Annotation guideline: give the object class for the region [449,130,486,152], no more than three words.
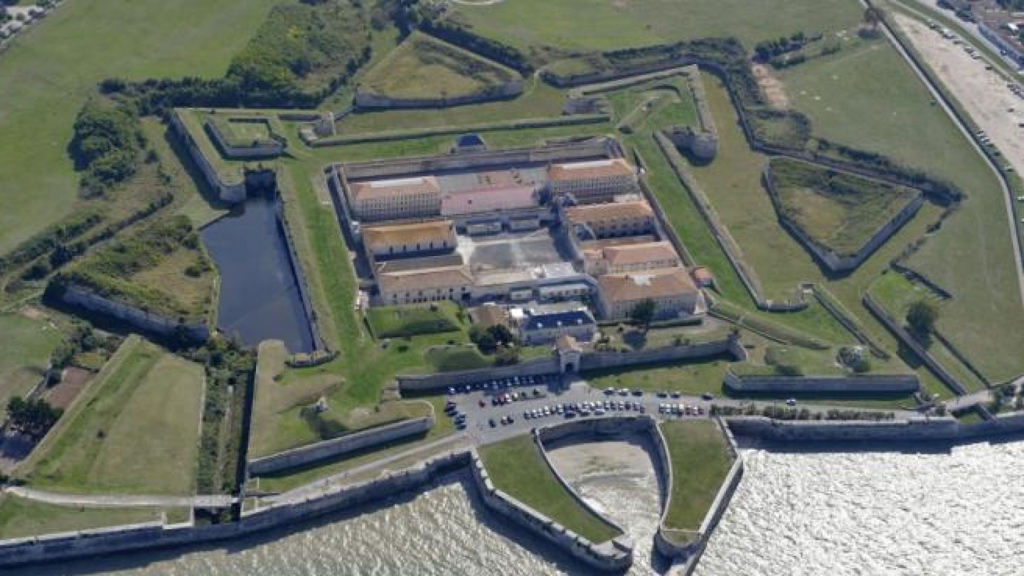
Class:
building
